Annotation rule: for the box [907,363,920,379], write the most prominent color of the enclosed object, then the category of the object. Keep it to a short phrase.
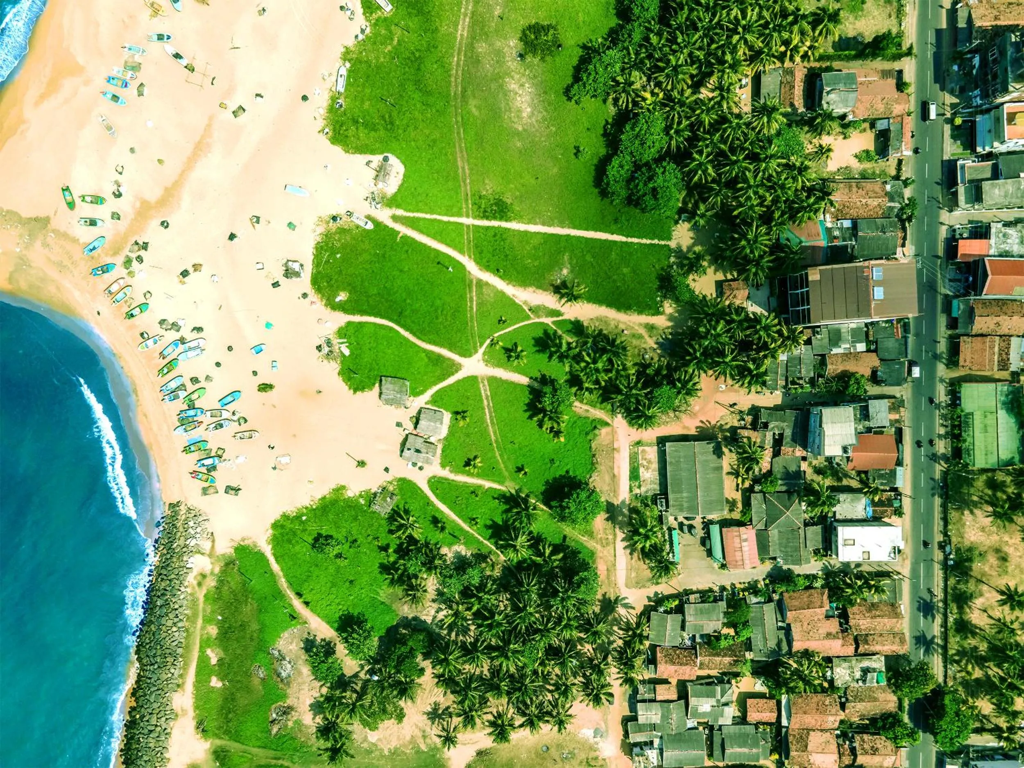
white vehicle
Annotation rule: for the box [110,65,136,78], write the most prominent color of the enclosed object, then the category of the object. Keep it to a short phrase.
white boat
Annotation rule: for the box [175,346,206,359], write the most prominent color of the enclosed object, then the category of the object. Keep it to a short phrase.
white boat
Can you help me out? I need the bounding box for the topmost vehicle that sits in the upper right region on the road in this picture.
[923,103,936,123]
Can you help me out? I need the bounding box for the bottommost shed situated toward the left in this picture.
[372,489,396,514]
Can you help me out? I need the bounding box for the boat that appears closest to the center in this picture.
[350,211,373,228]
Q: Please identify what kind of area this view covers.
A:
residential area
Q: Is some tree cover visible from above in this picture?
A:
Yes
